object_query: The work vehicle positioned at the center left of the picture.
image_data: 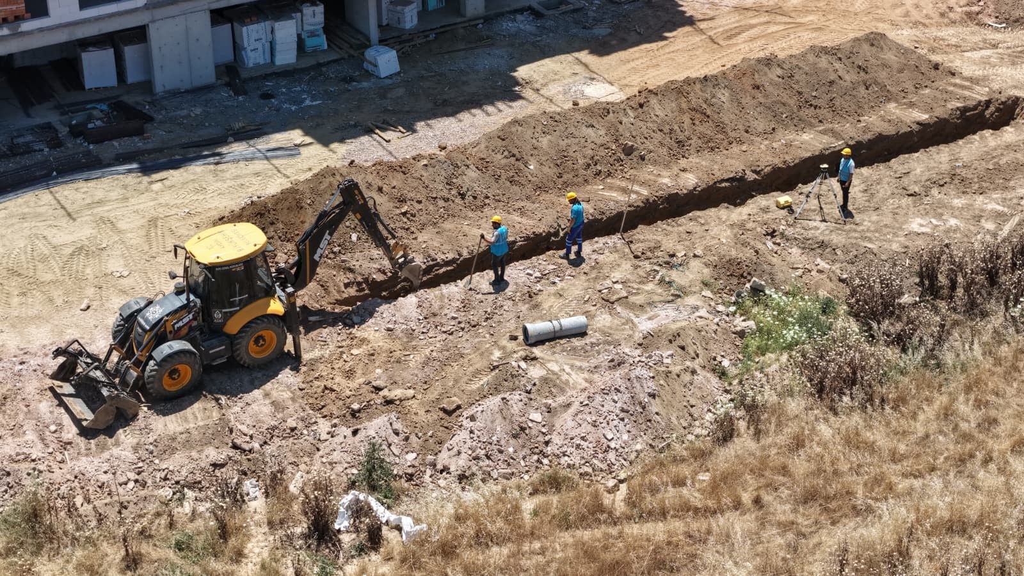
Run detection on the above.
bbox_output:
[51,171,423,429]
